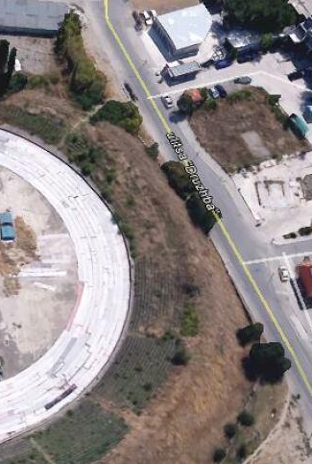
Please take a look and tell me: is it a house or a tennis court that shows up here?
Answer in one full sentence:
The one in the frame is a house.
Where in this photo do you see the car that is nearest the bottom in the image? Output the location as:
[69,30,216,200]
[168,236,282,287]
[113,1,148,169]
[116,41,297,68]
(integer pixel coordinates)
[278,265,291,280]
